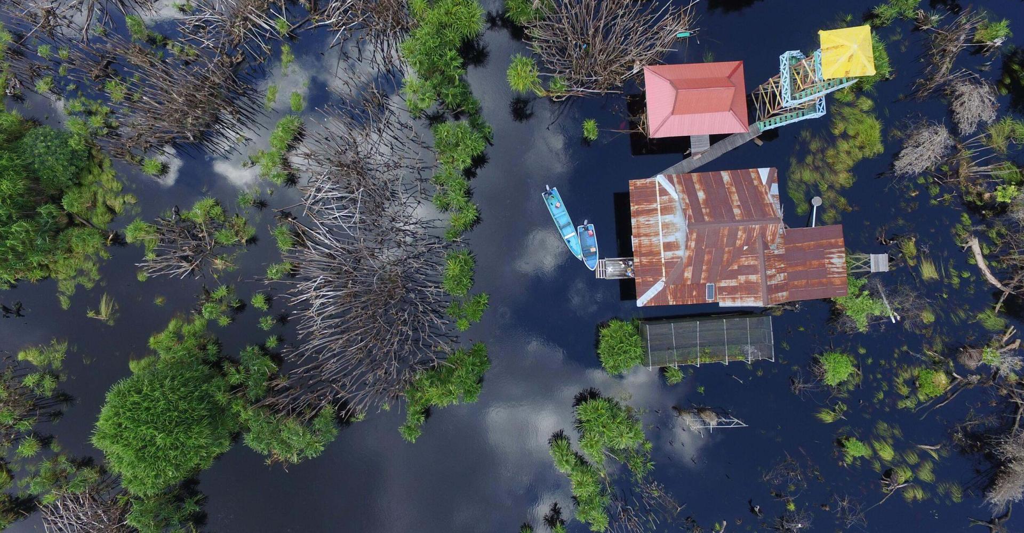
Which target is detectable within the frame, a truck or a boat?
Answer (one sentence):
This aerial view contains a boat.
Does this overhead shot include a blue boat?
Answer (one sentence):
Yes, there is a blue boat in the image.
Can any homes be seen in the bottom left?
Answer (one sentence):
No, no home can be made out in the bottom left.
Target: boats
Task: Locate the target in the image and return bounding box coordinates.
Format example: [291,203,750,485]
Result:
[542,184,582,261]
[577,218,598,270]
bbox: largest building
[628,166,848,307]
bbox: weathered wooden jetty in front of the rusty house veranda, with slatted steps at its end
[596,256,635,280]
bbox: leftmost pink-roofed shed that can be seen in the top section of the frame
[642,59,750,142]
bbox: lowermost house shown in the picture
[642,314,774,371]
